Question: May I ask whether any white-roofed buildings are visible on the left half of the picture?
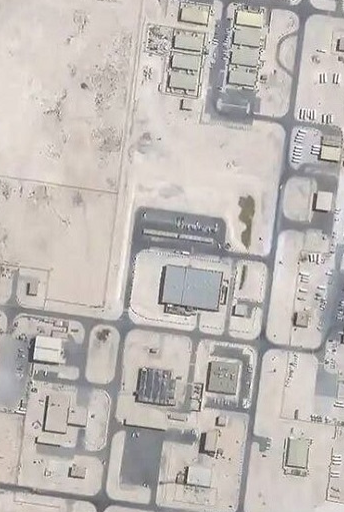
Yes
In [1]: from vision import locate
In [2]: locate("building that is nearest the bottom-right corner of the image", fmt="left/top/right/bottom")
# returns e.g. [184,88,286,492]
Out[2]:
[285,437,310,469]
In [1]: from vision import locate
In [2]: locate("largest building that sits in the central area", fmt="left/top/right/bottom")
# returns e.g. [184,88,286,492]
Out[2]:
[162,265,224,311]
